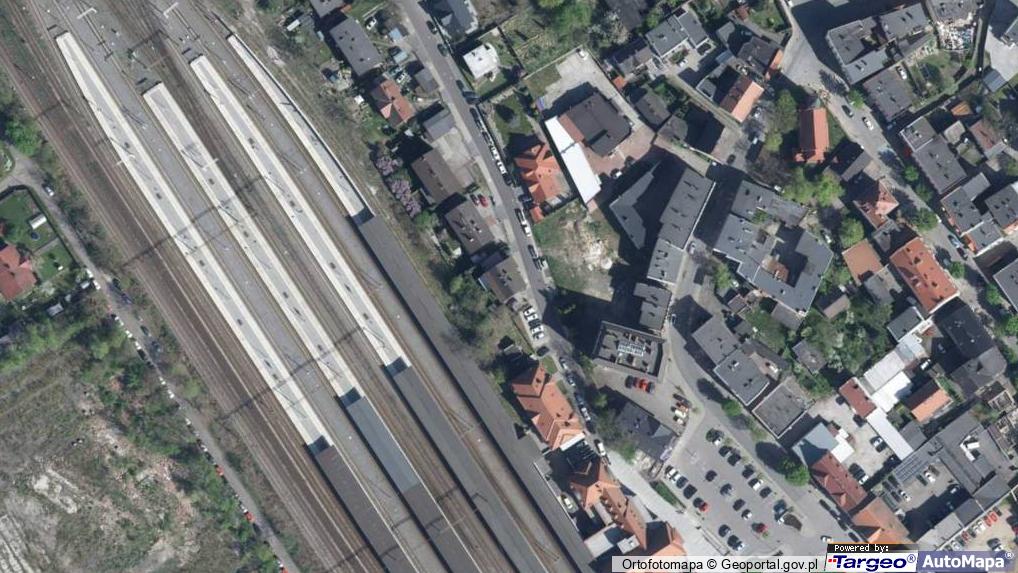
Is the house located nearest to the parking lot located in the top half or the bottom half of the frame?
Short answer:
bottom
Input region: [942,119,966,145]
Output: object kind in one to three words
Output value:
shed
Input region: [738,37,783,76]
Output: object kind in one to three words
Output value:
house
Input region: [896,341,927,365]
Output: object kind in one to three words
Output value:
greenhouse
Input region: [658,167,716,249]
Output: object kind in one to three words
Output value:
building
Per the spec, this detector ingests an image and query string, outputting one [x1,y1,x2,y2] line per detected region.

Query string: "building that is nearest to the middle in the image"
[480,258,528,303]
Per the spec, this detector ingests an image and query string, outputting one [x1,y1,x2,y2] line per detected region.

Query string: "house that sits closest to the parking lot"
[616,399,681,464]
